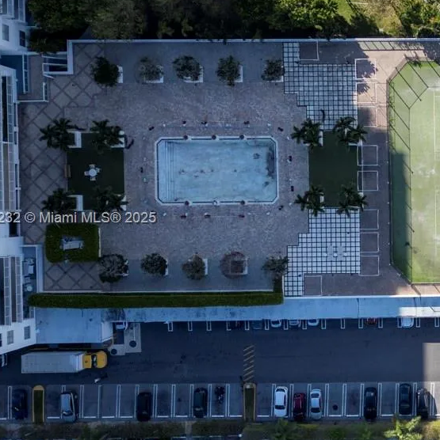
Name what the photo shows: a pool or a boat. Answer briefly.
pool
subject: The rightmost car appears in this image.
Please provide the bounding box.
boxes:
[416,388,431,419]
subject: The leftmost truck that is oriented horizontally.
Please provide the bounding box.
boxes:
[23,349,114,371]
